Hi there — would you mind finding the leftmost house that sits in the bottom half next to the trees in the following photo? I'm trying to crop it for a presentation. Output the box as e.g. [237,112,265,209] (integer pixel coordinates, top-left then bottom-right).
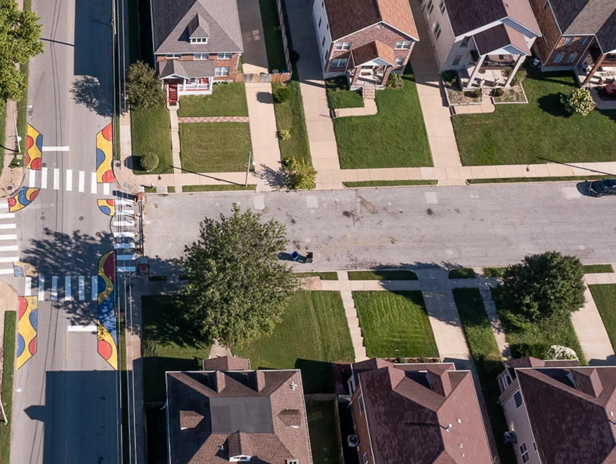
[163,352,314,464]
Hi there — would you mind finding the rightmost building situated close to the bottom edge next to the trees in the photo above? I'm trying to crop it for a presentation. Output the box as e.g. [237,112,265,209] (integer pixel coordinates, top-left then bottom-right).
[489,344,616,464]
